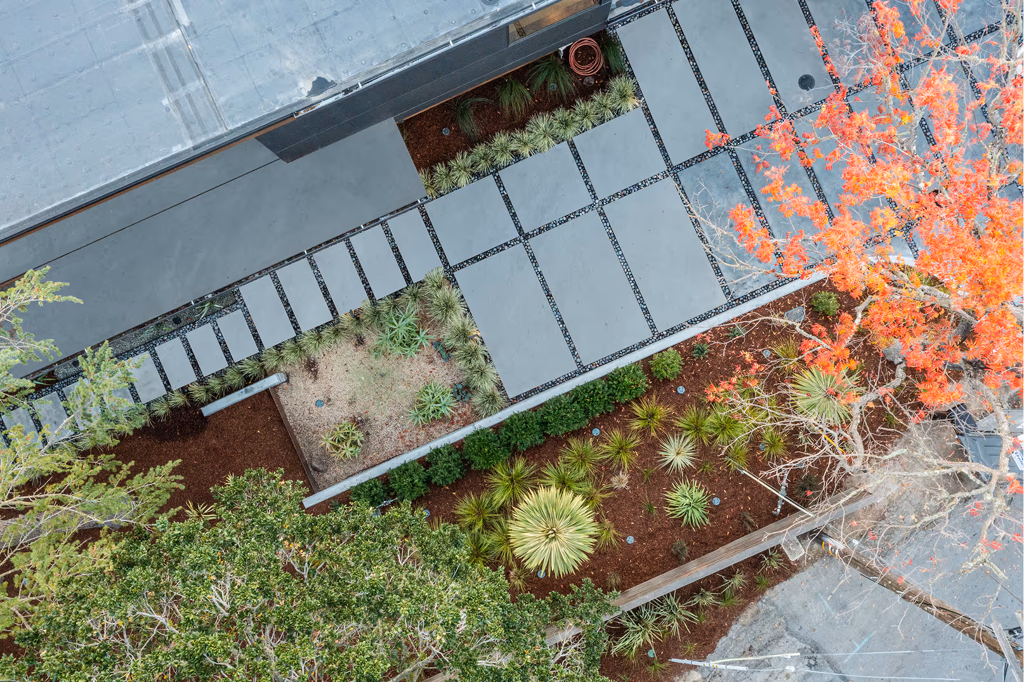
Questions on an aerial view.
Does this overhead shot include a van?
No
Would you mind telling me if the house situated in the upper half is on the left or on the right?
left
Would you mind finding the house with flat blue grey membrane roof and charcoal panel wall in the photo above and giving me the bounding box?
[0,0,615,248]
